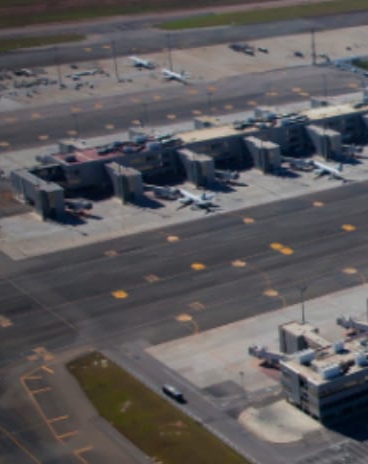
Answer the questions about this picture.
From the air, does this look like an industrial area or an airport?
airport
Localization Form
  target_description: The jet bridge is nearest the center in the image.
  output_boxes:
[142,184,183,200]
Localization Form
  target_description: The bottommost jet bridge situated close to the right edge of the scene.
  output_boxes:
[333,313,368,333]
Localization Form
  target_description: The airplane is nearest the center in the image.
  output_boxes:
[170,187,220,204]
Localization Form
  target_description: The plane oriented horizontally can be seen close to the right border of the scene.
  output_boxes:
[306,161,350,176]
